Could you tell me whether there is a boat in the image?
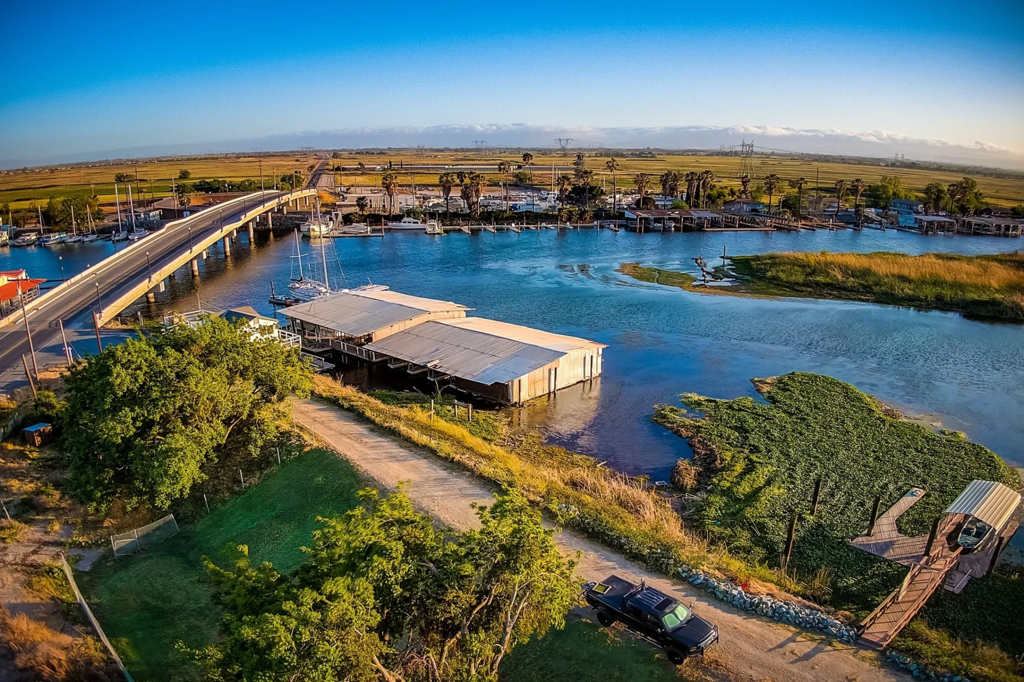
Yes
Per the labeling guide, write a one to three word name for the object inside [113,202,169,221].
building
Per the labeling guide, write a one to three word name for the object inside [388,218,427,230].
boat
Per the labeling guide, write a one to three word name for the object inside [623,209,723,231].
shed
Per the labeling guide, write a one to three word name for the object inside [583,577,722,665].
truck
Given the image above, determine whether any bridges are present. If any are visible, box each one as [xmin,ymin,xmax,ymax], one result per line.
[0,188,316,380]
